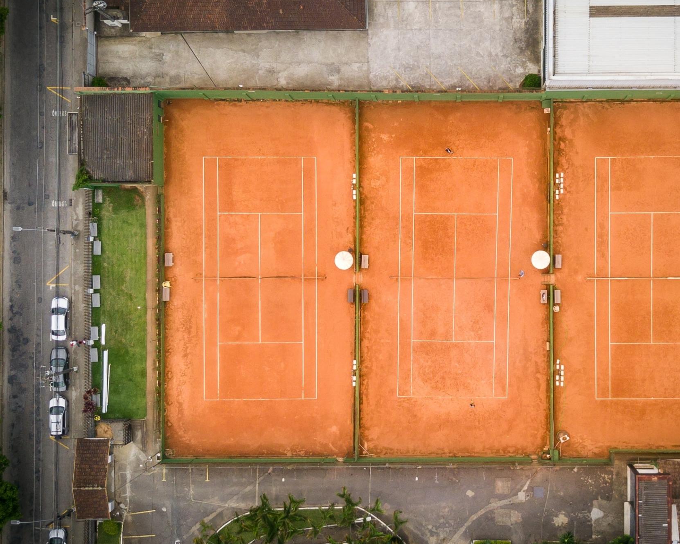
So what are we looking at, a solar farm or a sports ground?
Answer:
sports ground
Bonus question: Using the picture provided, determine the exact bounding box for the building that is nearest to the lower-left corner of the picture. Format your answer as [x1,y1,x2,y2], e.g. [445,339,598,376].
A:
[72,438,117,520]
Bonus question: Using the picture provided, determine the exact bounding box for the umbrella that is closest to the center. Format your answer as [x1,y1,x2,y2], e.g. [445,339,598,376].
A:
[334,252,354,270]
